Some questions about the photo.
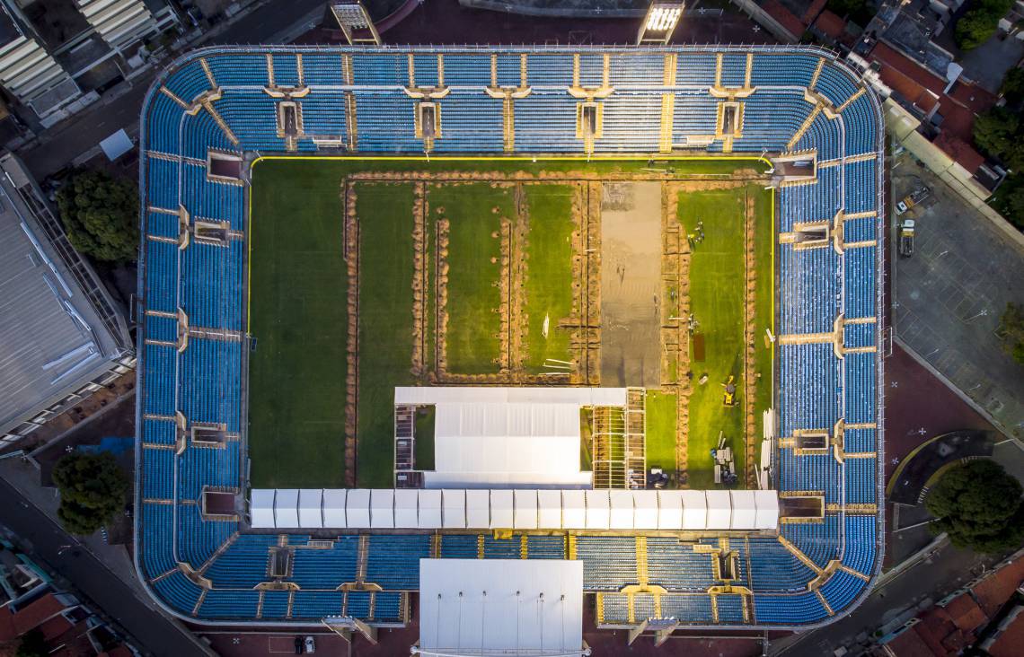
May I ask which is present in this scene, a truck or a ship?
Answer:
truck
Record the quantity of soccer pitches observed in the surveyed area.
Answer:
1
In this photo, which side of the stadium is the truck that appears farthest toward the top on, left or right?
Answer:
to the right of it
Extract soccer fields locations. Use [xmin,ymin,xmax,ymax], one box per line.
[249,159,774,532]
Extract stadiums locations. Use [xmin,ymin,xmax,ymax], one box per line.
[133,42,890,657]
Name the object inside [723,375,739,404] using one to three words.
work vehicle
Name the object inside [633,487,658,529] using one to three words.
tent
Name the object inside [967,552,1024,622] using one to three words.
house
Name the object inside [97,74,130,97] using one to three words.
shed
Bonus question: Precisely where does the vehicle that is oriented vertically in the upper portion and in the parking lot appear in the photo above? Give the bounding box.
[902,218,919,257]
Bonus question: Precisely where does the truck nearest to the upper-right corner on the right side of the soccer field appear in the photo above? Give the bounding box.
[894,182,934,216]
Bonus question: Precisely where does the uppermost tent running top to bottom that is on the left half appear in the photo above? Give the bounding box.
[395,404,418,472]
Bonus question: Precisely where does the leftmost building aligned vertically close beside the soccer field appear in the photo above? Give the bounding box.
[0,137,139,448]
